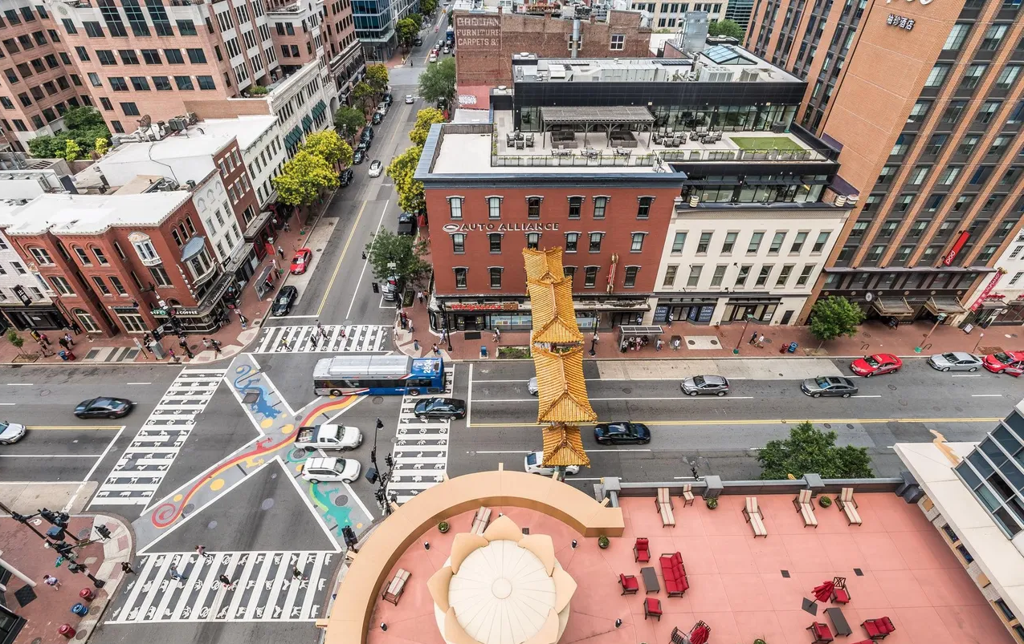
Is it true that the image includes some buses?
Yes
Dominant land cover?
buildings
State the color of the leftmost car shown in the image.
white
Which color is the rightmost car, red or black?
red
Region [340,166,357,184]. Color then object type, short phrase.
black car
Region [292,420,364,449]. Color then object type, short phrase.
white truck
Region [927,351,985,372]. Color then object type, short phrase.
gray car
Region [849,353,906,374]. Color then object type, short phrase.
red car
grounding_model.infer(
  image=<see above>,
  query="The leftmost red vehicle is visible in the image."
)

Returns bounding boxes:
[289,248,313,272]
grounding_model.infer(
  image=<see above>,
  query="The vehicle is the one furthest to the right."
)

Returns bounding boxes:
[982,350,1024,371]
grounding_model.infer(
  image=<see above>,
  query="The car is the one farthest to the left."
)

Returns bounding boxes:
[0,419,31,446]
